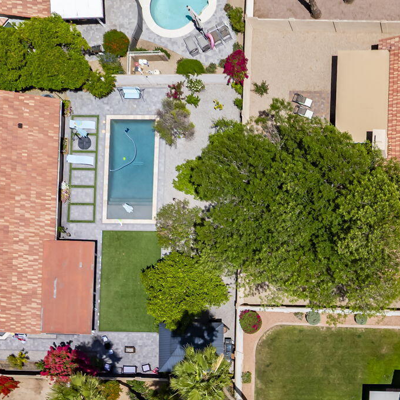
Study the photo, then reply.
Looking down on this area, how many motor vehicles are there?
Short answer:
none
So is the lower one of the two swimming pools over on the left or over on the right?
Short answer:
left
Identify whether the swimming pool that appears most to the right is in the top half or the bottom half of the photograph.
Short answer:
top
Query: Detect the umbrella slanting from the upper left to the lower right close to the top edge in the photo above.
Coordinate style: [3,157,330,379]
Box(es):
[187,7,213,41]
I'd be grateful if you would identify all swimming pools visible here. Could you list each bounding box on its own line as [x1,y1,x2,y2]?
[101,115,160,225]
[143,0,216,37]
